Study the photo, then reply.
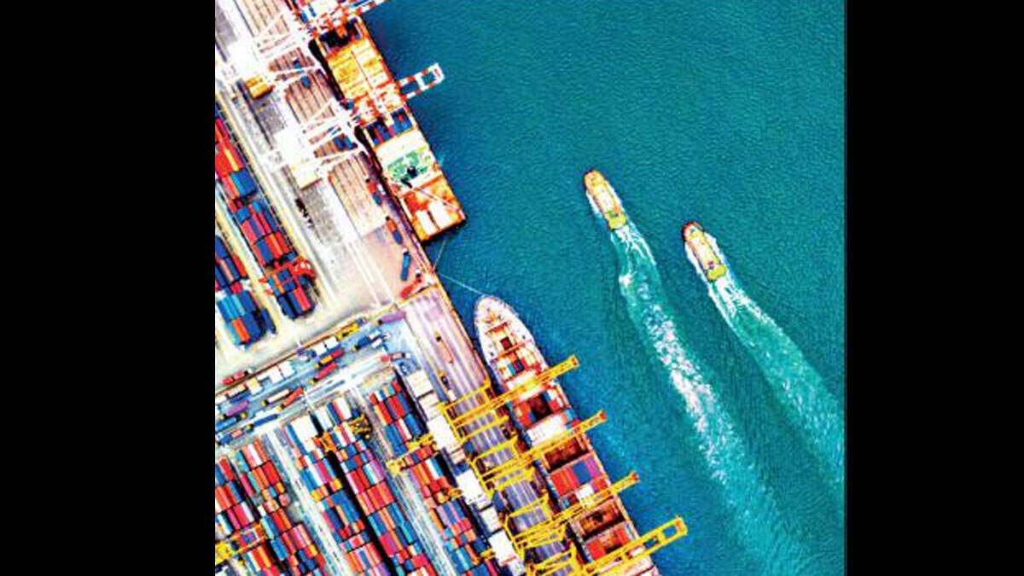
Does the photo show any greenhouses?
No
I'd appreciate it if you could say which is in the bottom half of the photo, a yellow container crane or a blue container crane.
yellow container crane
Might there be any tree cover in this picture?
No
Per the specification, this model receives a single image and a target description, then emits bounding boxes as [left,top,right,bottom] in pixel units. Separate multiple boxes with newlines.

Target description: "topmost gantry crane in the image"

[216,0,379,86]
